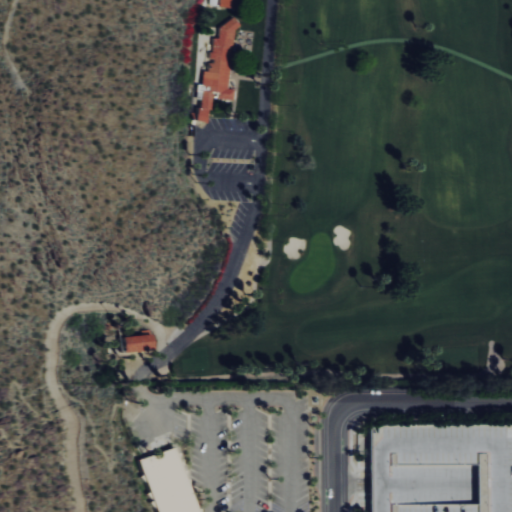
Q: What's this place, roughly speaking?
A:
golf course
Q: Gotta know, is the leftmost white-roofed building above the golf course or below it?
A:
below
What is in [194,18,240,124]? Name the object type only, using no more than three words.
building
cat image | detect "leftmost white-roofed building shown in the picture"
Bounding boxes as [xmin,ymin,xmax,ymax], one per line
[136,446,202,512]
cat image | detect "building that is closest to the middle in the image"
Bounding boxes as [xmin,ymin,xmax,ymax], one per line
[124,330,157,352]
